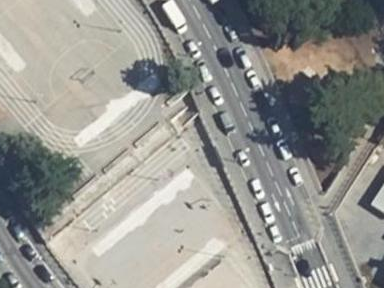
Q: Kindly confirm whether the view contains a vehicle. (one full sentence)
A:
Yes, the frame does contain a vehicle.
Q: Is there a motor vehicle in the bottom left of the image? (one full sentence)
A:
Yes, a motor vehicle can be seen in the bottom left of the image.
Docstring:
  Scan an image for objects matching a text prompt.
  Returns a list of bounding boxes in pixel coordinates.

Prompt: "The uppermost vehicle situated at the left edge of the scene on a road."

[6,217,24,240]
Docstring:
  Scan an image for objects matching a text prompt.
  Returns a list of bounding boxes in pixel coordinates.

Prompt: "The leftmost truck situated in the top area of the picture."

[160,0,186,34]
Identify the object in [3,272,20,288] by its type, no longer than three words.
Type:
car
